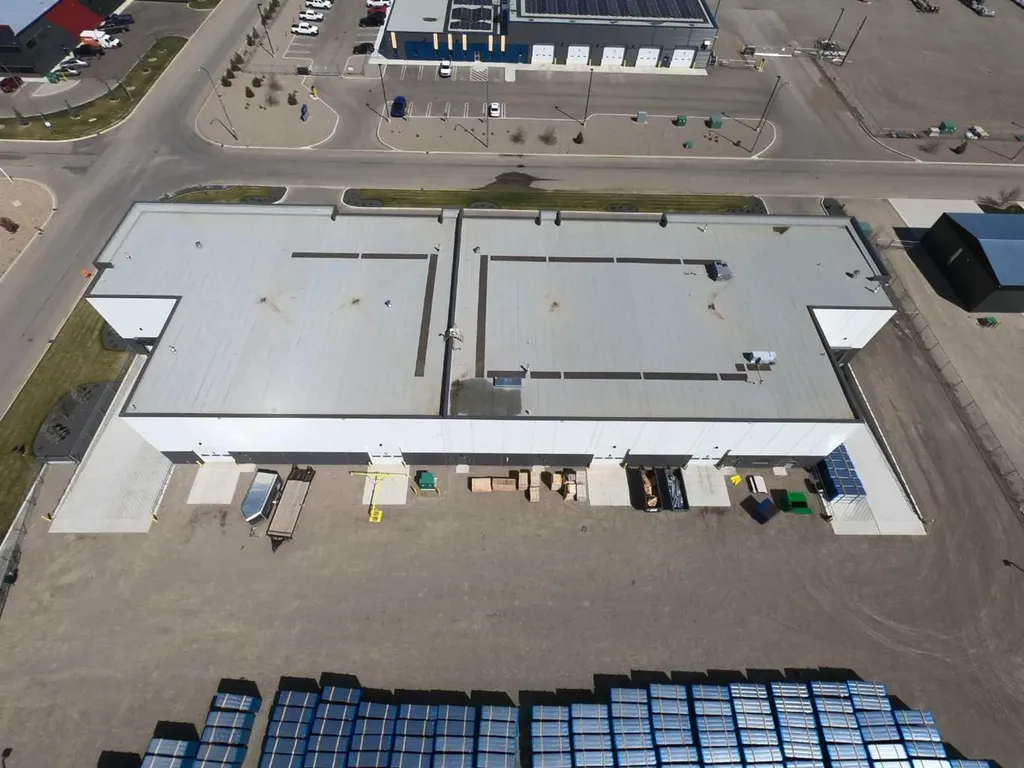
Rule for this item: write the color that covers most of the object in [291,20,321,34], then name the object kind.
white vehicle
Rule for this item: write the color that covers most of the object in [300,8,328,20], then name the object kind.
white vehicle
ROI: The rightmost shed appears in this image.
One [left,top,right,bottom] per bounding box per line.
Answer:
[921,212,1024,312]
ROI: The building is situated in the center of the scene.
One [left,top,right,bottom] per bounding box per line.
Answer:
[85,202,895,468]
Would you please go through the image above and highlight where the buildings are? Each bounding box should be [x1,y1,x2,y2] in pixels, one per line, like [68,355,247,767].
[921,212,1024,312]
[0,0,129,76]
[384,0,719,69]
[85,202,895,468]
